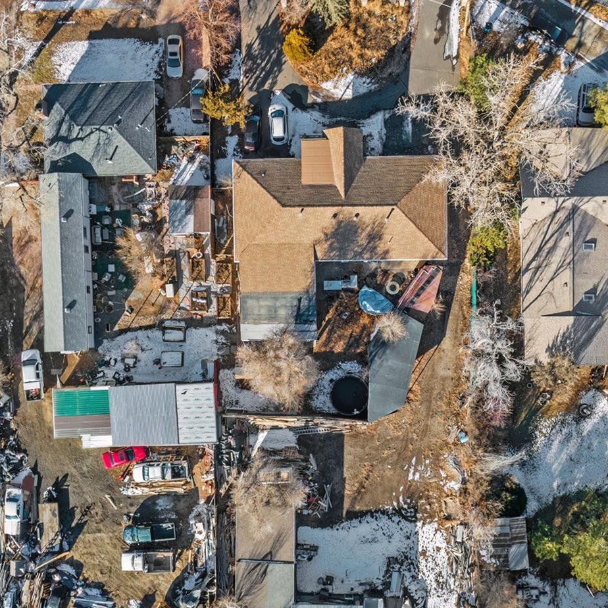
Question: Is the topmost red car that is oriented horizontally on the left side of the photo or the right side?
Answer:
left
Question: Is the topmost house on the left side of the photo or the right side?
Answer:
left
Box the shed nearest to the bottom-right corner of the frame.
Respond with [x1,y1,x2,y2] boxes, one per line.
[489,515,529,570]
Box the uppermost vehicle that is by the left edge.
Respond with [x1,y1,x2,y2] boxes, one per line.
[16,350,41,403]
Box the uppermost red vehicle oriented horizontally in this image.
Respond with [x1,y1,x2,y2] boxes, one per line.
[102,446,146,470]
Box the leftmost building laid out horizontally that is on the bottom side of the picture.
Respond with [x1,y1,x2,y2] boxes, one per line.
[51,383,219,448]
